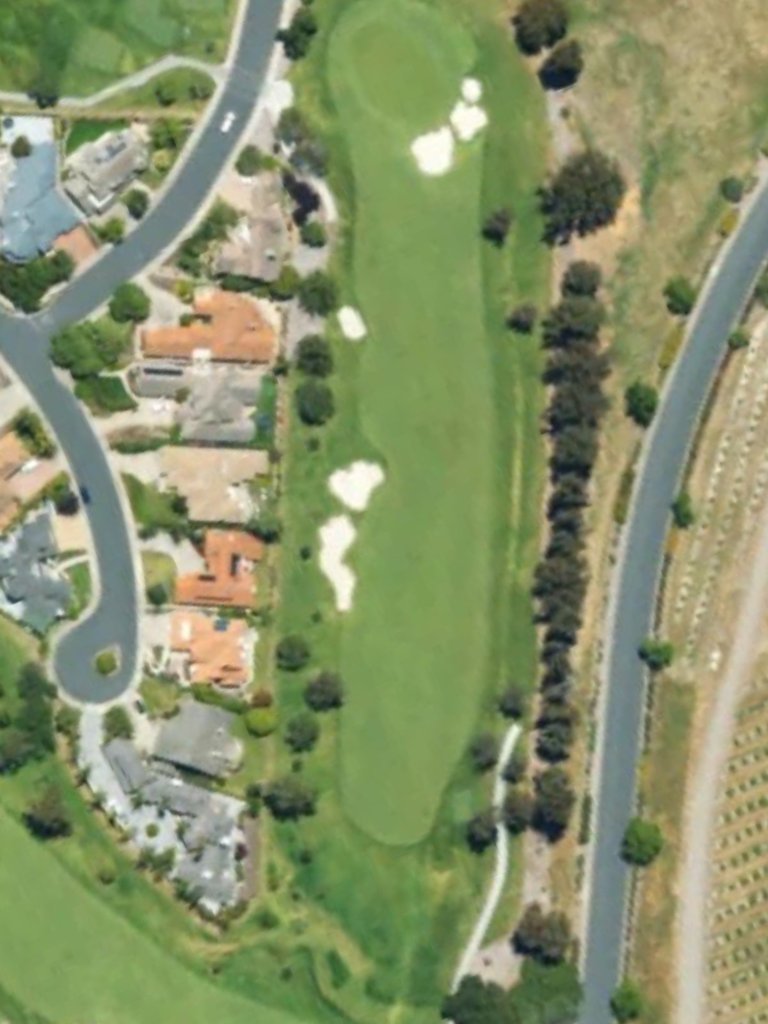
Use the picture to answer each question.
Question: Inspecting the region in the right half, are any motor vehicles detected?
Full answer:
No, I can find no motor vehicle in the right half.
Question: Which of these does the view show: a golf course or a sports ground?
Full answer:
It's a golf course.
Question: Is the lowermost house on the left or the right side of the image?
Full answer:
You can find the lowermost house on the left side of the picture.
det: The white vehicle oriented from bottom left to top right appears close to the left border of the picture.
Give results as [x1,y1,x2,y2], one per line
[20,456,42,474]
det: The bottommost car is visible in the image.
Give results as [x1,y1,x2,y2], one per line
[132,698,148,717]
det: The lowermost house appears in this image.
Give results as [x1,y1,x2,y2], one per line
[102,735,236,900]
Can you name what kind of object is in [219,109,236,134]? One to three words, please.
car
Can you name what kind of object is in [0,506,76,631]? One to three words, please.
house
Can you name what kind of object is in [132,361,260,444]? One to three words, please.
house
